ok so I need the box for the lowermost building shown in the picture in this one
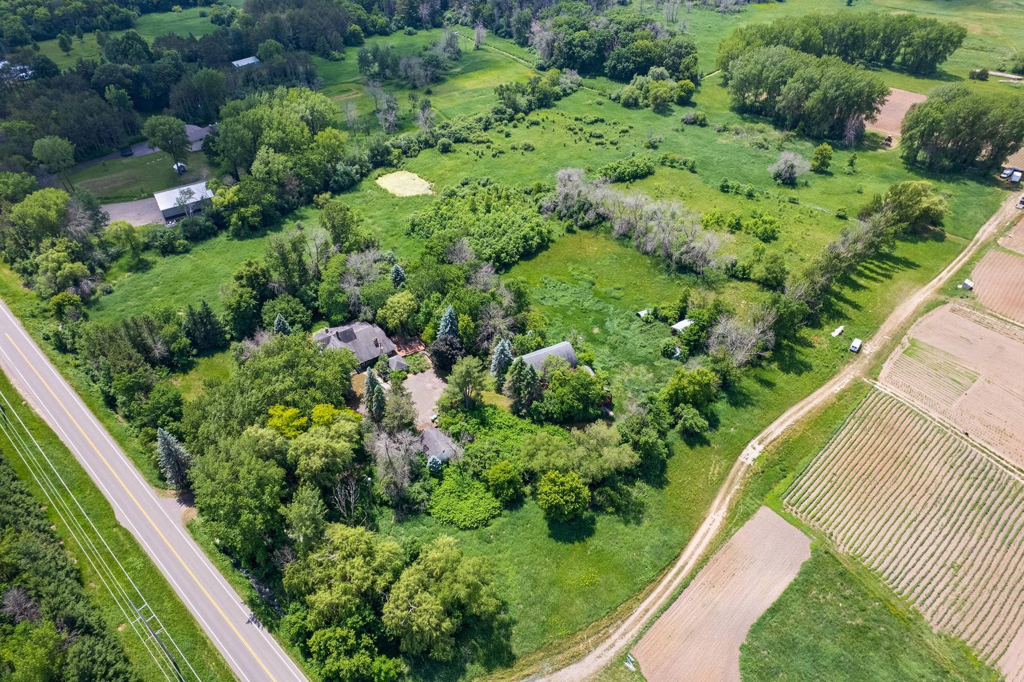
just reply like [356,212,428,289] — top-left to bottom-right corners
[417,426,462,469]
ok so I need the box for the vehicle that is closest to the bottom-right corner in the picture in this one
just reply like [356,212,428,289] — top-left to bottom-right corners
[847,339,860,355]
